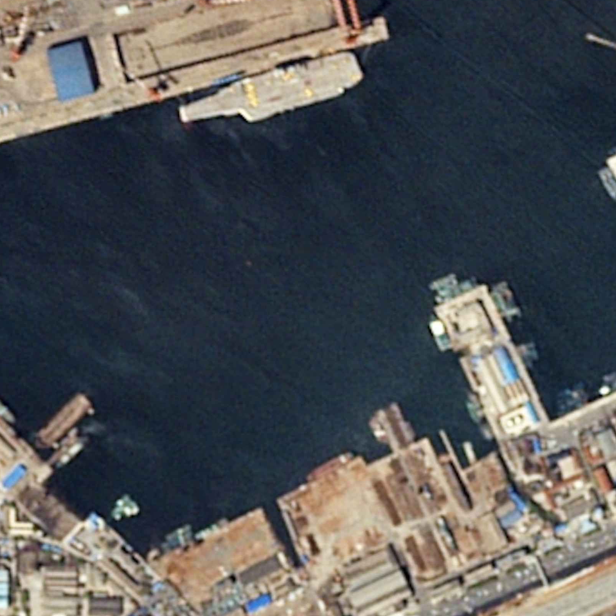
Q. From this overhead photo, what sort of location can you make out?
port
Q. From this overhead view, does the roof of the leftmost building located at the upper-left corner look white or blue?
blue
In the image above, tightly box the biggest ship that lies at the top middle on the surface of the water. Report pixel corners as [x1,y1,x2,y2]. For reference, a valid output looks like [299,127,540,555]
[179,52,362,122]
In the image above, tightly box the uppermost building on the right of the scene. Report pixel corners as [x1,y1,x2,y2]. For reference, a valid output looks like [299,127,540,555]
[458,302,491,336]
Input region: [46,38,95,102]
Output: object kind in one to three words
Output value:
building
